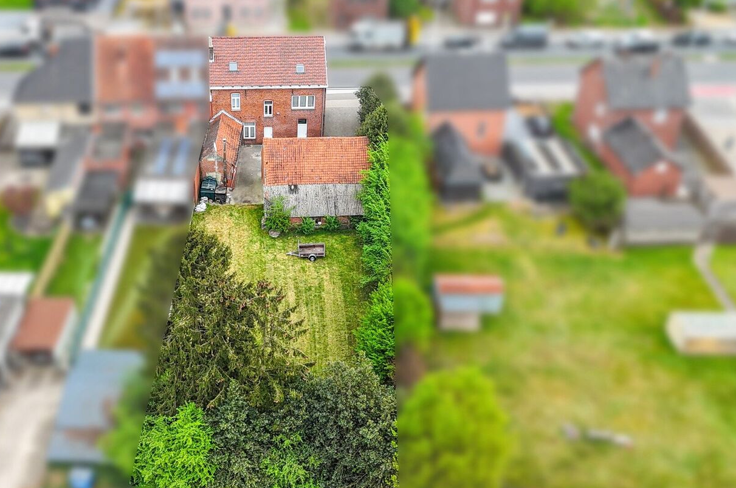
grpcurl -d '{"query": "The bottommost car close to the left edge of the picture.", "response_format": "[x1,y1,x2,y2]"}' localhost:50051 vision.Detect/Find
[0,41,35,60]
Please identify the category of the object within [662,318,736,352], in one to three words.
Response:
greenhouse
